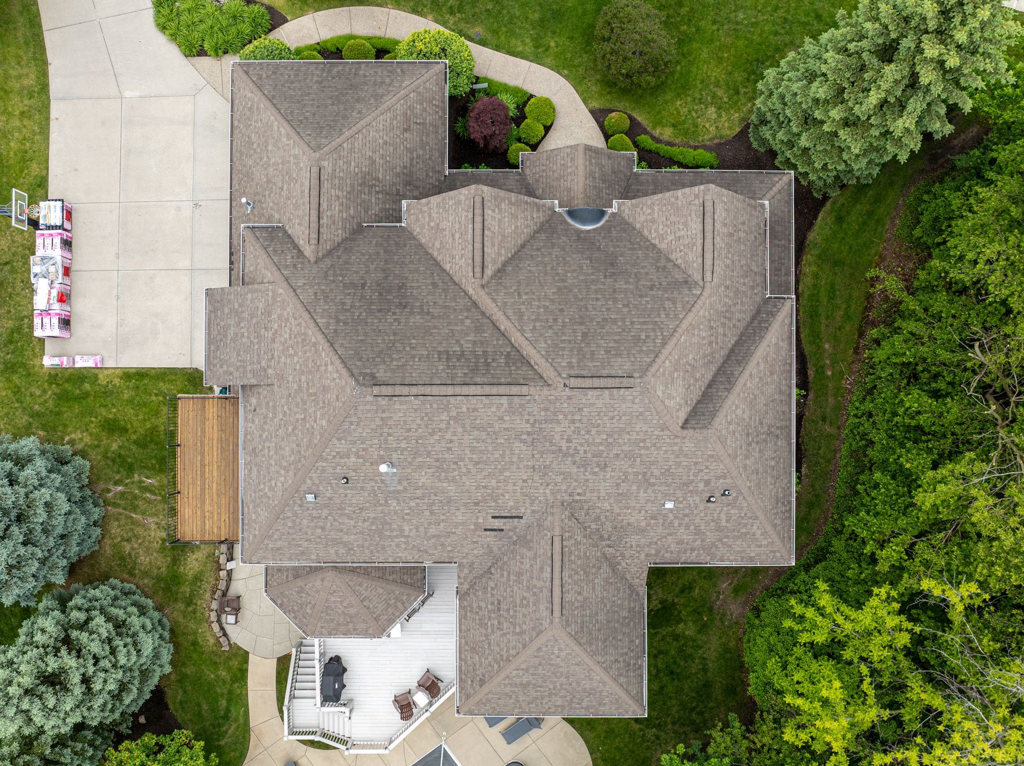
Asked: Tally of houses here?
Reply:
1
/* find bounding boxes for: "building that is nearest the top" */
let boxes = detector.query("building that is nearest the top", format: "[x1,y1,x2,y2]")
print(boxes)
[206,61,794,715]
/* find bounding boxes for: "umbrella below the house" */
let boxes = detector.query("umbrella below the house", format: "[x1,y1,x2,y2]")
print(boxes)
[420,733,465,766]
